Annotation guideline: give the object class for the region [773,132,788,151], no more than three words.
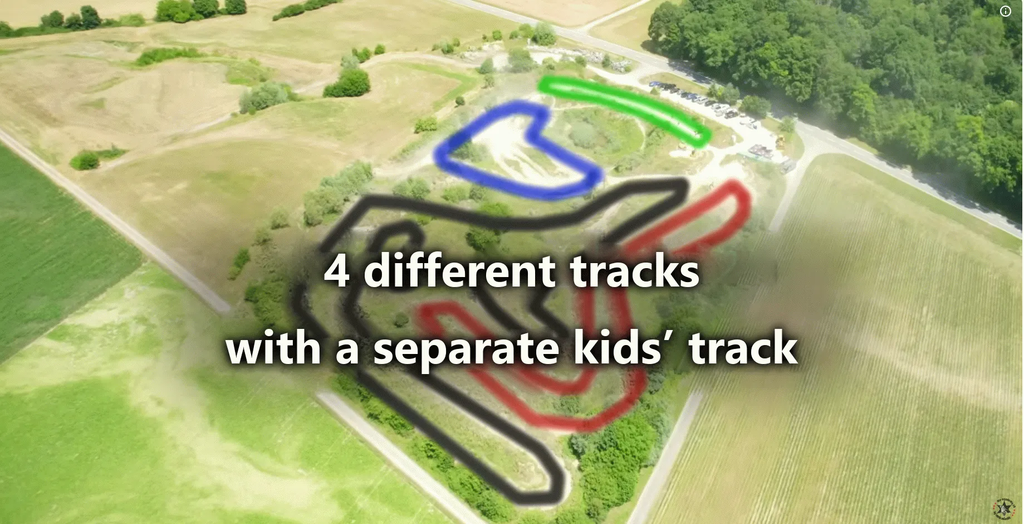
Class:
work vehicle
